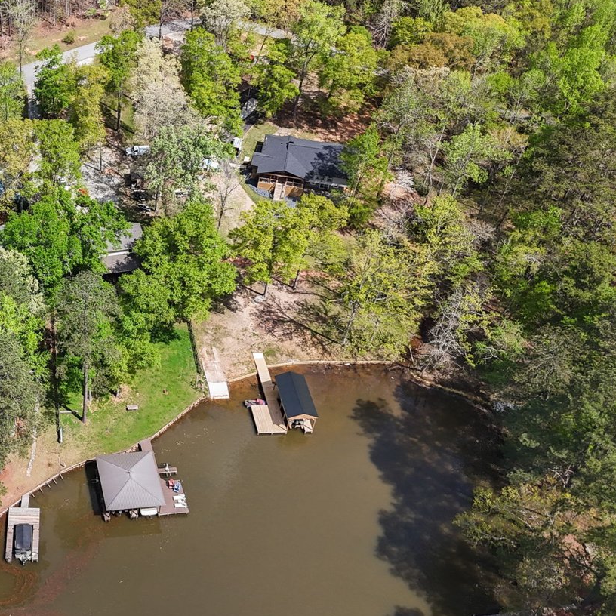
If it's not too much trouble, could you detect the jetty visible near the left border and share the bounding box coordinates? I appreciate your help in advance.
[5,506,41,565]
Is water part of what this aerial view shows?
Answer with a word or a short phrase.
Yes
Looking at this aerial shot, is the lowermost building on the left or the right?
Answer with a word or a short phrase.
left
